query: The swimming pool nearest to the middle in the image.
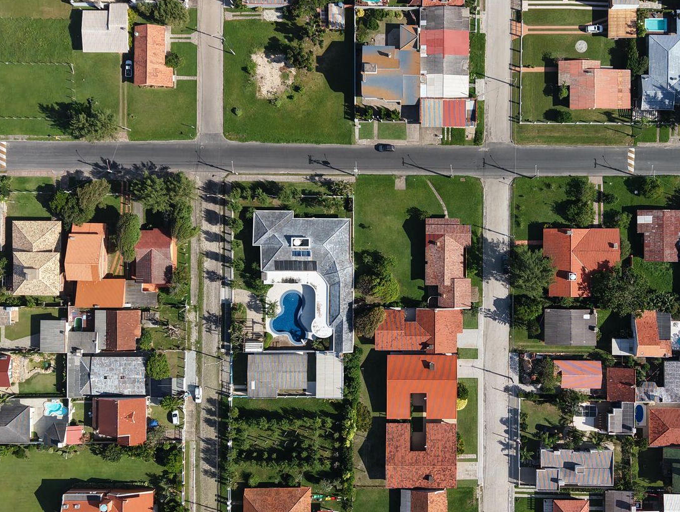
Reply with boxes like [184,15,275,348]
[269,288,308,344]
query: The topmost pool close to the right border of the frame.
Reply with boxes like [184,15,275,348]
[644,16,668,33]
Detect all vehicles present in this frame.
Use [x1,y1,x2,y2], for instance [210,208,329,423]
[502,257,509,274]
[124,58,133,79]
[585,25,604,33]
[172,409,180,427]
[194,385,204,403]
[376,143,394,152]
